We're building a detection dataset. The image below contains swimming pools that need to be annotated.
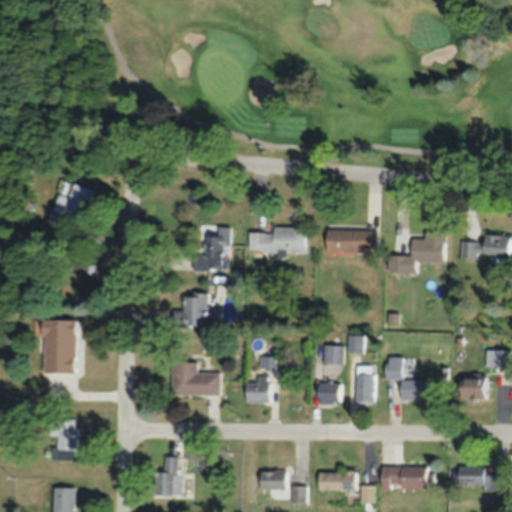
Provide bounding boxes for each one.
[426,279,439,292]
[252,337,266,352]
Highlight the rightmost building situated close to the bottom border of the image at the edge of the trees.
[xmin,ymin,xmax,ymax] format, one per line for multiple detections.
[456,467,486,488]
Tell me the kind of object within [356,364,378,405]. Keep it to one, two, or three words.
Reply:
house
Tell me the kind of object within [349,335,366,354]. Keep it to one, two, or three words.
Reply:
building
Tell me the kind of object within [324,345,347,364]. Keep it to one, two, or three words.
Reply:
building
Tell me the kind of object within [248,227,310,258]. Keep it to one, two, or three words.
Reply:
house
